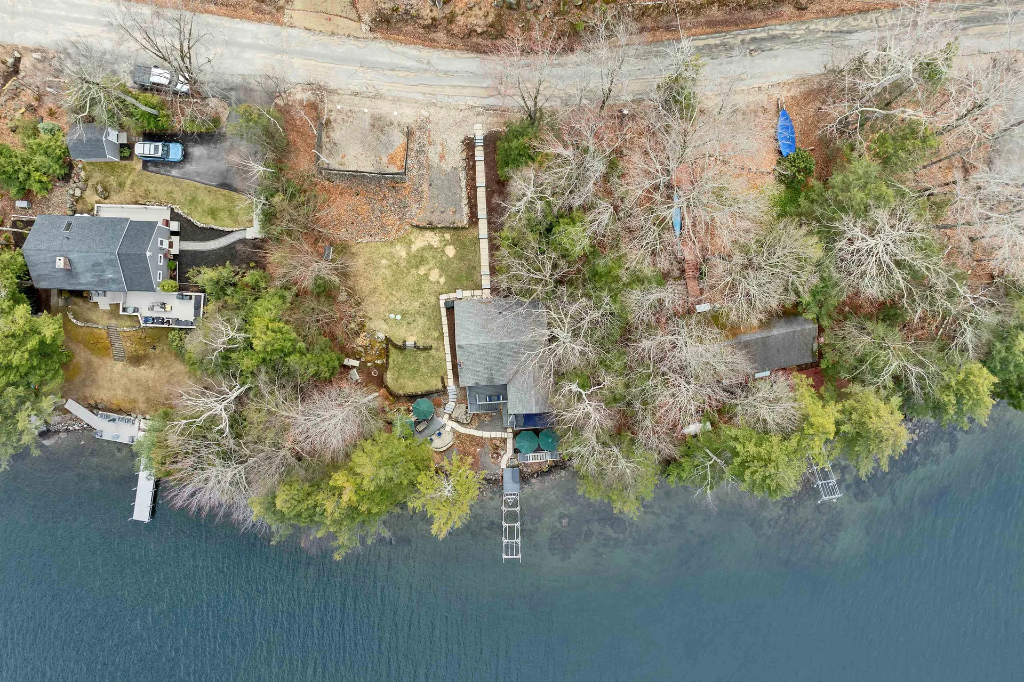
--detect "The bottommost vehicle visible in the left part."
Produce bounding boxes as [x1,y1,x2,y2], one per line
[128,137,182,163]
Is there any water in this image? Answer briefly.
Yes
